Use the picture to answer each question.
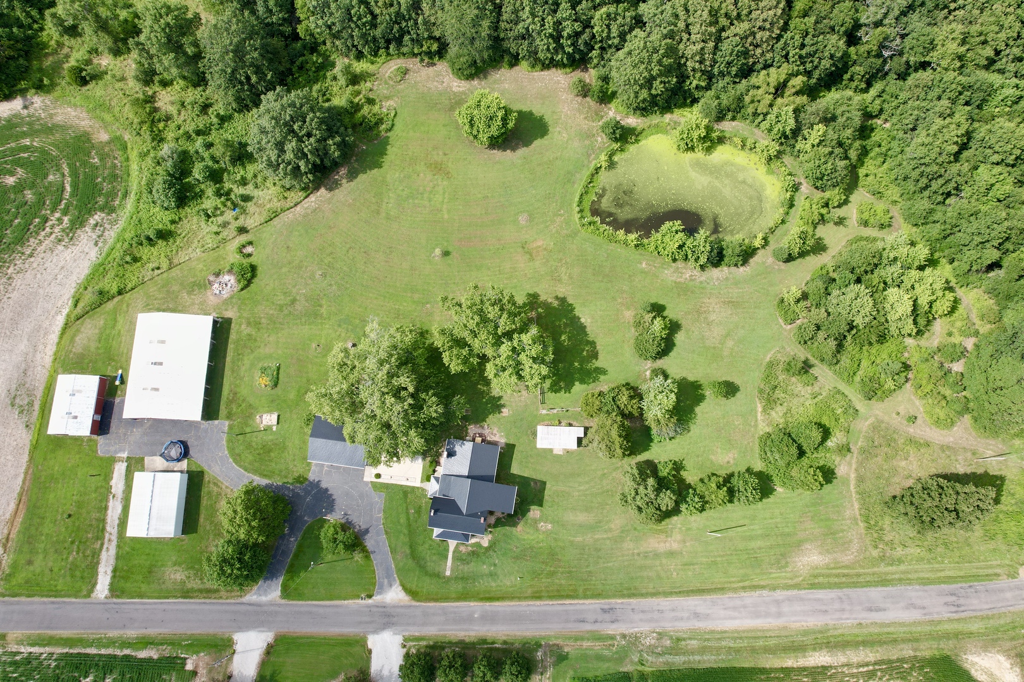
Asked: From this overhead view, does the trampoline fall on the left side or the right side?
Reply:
left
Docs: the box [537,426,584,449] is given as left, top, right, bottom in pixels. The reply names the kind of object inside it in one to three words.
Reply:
shed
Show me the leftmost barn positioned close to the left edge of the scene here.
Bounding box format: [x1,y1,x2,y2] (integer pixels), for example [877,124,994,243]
[47,374,107,436]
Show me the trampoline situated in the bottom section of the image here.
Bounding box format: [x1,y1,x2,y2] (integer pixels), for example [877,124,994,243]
[157,440,184,462]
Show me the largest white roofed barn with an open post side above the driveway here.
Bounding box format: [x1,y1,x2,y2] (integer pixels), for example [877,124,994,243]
[123,312,222,422]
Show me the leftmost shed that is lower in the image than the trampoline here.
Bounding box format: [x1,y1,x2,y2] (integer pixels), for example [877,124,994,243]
[127,472,189,537]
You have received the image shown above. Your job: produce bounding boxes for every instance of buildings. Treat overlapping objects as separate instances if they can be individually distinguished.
[127,472,189,537]
[428,435,517,543]
[308,415,375,469]
[537,426,584,449]
[47,374,107,436]
[123,312,222,422]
